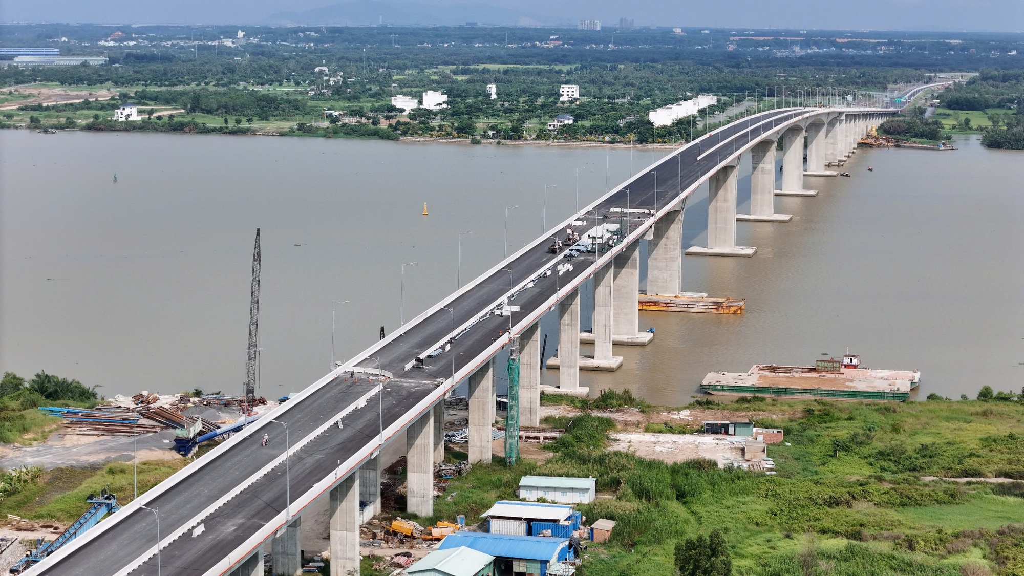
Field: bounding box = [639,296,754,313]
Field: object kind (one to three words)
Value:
ship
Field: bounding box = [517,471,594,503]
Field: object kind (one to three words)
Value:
shed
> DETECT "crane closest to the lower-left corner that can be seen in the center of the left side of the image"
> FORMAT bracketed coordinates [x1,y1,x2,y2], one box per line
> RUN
[238,226,261,417]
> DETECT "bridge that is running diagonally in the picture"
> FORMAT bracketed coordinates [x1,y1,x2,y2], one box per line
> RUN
[17,107,900,576]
